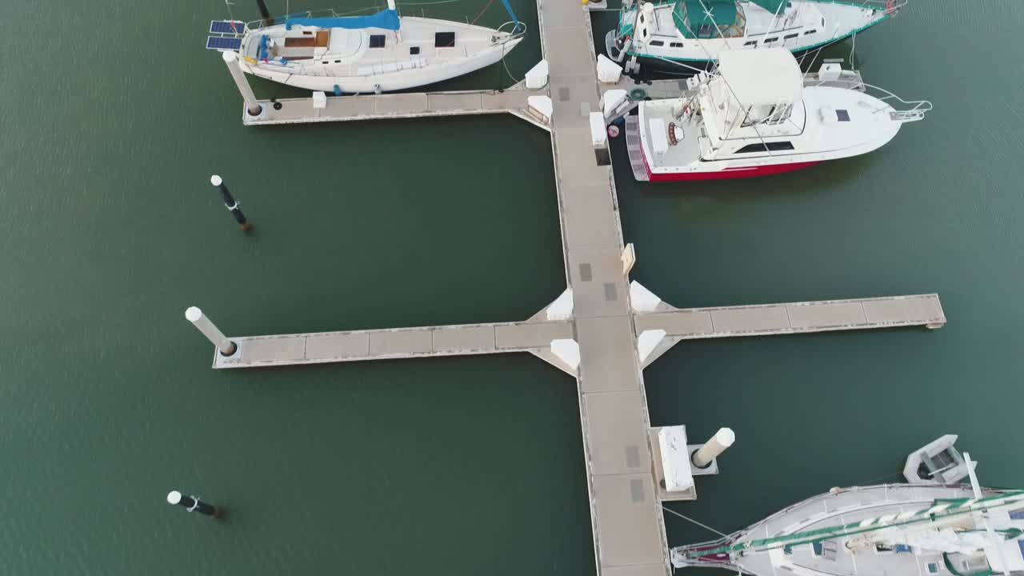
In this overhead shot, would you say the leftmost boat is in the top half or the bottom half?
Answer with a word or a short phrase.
top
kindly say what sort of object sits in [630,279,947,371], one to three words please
pier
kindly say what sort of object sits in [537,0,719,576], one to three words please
pier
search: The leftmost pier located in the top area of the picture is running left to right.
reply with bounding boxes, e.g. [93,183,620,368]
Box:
[242,67,550,134]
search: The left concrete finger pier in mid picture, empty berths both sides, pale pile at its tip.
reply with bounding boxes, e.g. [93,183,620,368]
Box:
[212,294,576,382]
